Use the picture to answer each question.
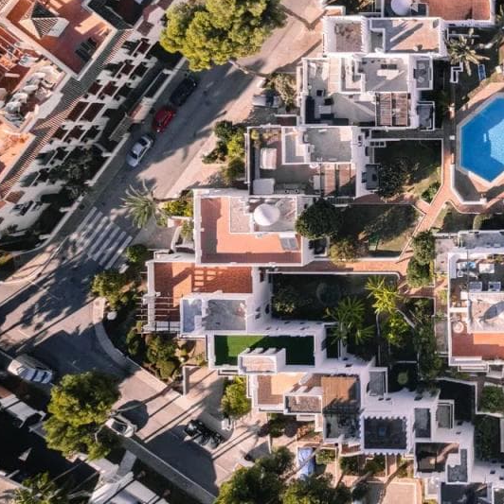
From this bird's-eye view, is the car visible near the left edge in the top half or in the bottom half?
bottom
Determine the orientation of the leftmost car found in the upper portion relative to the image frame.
diagonally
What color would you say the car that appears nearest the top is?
black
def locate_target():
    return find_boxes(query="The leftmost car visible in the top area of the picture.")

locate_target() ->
[124,132,158,171]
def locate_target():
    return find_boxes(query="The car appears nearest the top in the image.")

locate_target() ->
[167,70,200,109]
